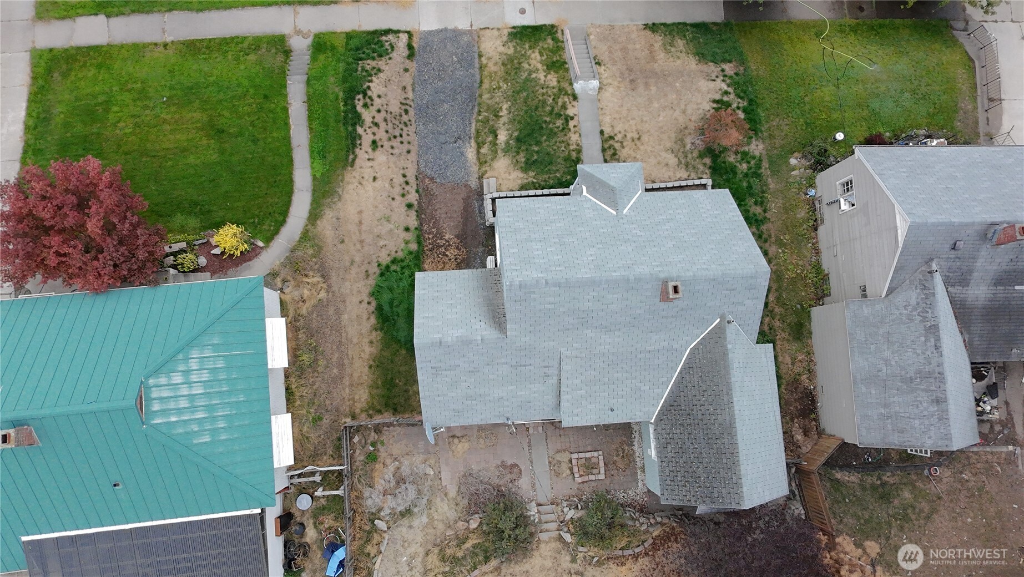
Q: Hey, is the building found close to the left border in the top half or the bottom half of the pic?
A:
bottom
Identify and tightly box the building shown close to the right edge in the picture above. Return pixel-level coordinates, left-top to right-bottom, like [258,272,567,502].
[811,142,1024,451]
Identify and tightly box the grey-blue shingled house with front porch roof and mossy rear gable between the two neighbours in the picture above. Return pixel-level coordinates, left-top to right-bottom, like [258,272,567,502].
[413,162,789,514]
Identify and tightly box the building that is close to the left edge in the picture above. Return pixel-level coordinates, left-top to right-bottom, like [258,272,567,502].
[0,274,297,577]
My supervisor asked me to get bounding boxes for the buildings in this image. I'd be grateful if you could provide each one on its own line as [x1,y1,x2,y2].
[0,274,297,577]
[413,162,789,514]
[811,142,1024,451]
